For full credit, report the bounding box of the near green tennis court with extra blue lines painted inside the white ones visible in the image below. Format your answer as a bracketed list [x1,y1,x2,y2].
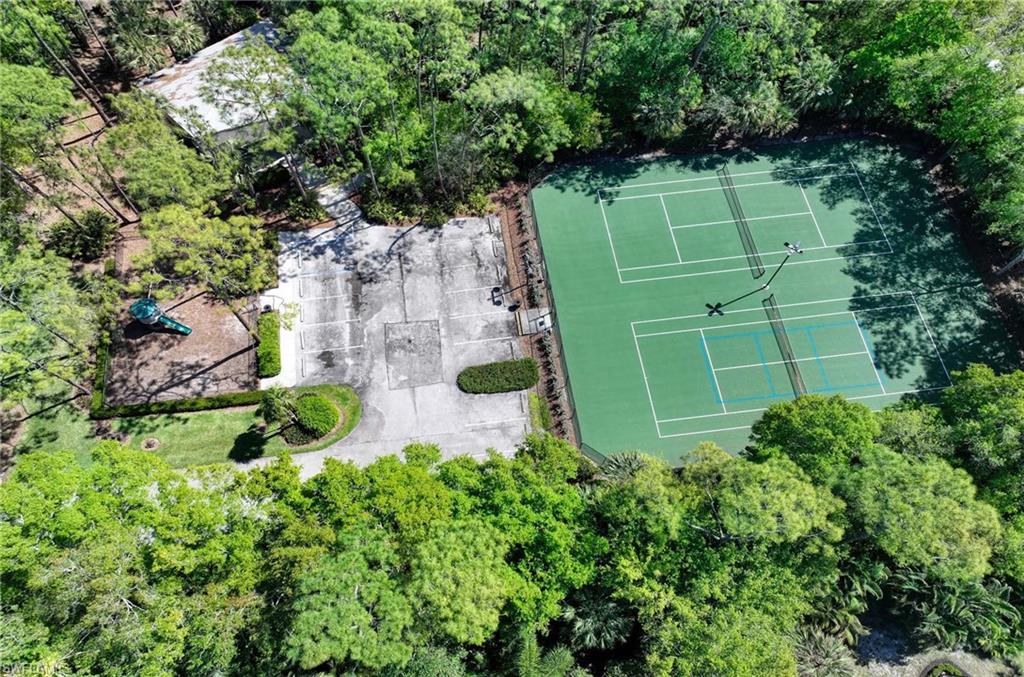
[554,262,1024,467]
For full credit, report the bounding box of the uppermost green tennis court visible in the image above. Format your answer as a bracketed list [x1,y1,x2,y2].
[531,133,980,310]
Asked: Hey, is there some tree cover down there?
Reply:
Yes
